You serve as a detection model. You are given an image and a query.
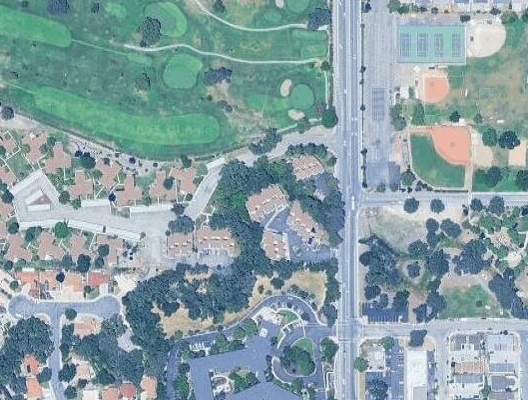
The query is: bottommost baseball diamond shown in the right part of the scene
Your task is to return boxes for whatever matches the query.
[406,124,472,191]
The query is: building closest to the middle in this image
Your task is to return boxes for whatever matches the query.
[246,183,290,220]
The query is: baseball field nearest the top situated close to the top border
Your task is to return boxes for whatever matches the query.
[467,16,507,57]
